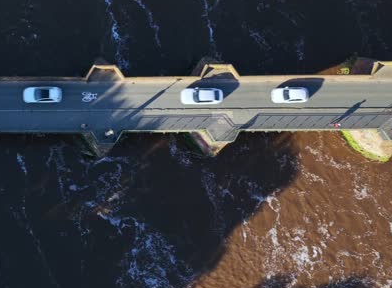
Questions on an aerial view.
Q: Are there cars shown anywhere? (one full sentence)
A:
Yes, a car appears in the view.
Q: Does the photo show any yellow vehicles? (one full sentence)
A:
No, the scene contains no yellow vehicle.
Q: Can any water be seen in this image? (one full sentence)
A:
Yes, there is water in the image.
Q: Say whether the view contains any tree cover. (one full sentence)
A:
No, there's no tree cover in this view.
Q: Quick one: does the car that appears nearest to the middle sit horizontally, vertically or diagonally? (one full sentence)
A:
The car that appears nearest to the middle is oriented horizontally.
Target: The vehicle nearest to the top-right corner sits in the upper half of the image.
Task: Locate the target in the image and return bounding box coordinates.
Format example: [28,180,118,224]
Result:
[269,85,310,104]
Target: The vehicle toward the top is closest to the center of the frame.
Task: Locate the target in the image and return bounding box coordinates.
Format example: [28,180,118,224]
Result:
[178,86,223,106]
